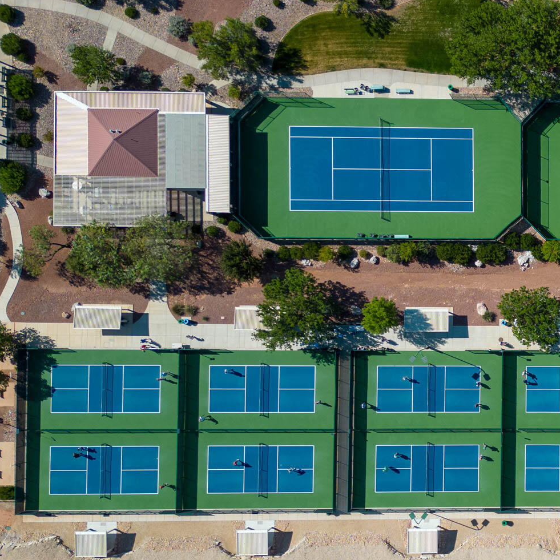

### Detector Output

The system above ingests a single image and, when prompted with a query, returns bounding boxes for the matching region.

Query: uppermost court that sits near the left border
[27,350,178,431]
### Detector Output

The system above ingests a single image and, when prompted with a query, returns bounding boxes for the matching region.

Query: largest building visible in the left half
[46,91,229,226]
